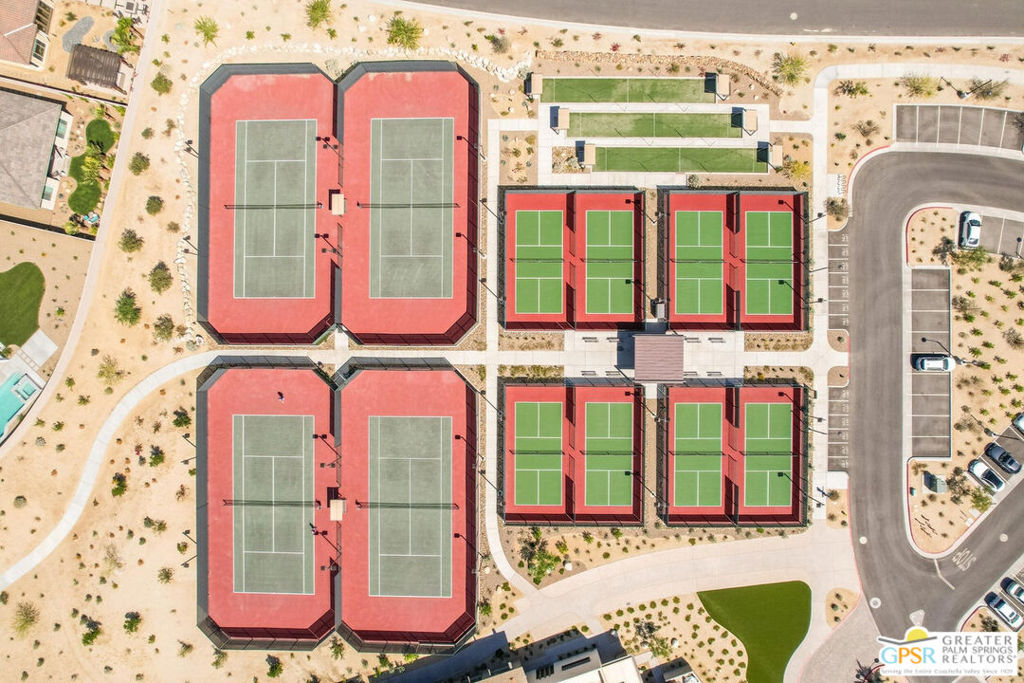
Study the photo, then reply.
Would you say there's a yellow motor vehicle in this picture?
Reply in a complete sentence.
No, there isn't any yellow motor vehicle down there.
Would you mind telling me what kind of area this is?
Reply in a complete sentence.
The picture captures a sports ground.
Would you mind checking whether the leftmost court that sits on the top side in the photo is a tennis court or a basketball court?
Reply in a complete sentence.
It turns out the leftmost court that sits on the top side is a tennis court.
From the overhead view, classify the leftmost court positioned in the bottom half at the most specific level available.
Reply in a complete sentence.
I'd identify the leftmost court positioned in the bottom half as a tennis court.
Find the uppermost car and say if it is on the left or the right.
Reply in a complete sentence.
The uppermost car is on the right side of the image.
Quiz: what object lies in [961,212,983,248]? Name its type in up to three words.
car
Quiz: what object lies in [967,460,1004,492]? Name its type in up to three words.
car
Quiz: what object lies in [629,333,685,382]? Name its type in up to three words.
building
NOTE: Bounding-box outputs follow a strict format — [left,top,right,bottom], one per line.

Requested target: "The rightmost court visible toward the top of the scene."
[735,194,801,330]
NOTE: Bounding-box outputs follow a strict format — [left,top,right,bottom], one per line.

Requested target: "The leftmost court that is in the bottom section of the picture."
[208,370,341,638]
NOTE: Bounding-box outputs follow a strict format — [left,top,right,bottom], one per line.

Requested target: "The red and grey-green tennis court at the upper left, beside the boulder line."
[209,73,343,342]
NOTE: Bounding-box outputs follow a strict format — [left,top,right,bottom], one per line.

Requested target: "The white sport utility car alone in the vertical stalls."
[918,355,954,372]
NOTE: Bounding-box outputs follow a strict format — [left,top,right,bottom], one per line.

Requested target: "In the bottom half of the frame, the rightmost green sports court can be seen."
[735,389,801,523]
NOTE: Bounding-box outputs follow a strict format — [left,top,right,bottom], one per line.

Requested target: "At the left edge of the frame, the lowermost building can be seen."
[0,93,72,209]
